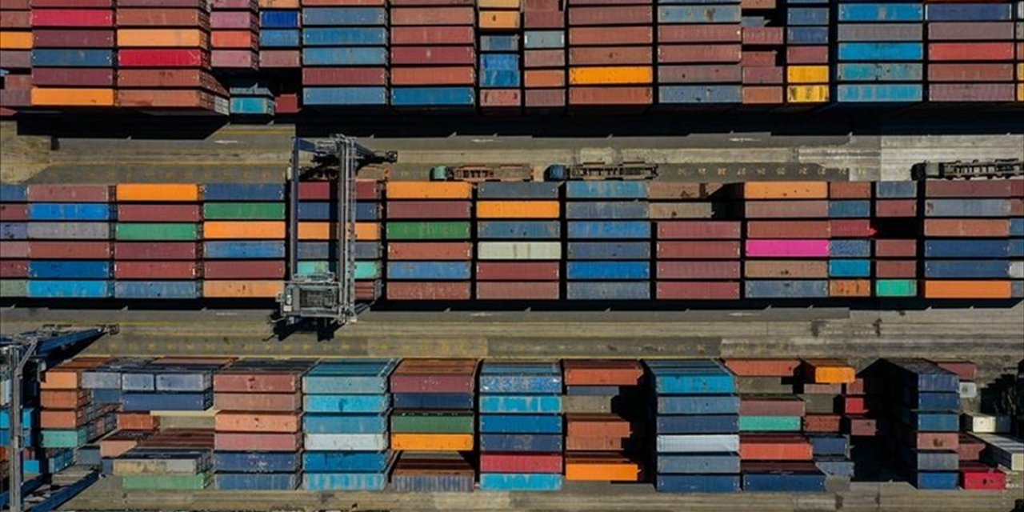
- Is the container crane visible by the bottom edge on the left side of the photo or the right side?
left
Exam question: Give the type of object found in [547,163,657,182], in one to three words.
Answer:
vehicle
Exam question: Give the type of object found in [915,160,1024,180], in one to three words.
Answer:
vehicle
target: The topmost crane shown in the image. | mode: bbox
[274,125,390,329]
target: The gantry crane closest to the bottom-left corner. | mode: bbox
[0,322,120,512]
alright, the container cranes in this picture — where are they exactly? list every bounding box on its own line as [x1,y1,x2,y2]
[0,322,120,512]
[274,125,390,329]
